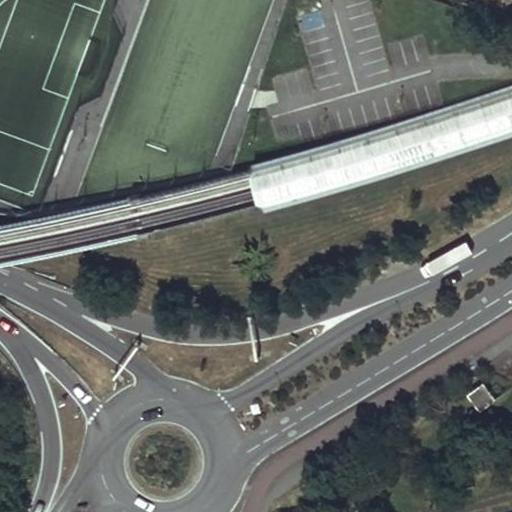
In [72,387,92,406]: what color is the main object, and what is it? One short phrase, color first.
white car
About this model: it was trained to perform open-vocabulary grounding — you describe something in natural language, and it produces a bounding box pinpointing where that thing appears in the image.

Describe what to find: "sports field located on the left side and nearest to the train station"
[74,0,278,211]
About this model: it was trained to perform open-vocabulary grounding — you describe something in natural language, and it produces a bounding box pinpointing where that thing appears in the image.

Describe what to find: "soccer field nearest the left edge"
[0,0,122,213]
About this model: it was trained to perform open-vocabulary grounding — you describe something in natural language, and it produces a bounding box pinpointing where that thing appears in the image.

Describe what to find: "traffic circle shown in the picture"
[126,422,204,501]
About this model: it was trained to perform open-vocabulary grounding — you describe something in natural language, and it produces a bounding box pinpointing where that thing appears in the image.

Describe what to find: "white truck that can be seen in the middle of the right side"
[420,242,472,280]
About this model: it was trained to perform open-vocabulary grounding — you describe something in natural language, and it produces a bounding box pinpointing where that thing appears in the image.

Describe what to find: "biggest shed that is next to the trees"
[466,384,495,412]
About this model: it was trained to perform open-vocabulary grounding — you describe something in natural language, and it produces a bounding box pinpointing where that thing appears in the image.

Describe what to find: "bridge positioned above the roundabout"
[0,96,511,269]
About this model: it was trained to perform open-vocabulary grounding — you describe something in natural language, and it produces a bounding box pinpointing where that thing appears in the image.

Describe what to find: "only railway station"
[250,86,512,210]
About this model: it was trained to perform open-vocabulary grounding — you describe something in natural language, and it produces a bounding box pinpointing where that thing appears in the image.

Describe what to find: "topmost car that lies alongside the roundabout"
[141,408,162,422]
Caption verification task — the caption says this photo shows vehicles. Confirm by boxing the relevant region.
[141,408,162,422]
[72,387,92,406]
[0,318,18,336]
[420,242,472,280]
[34,502,46,512]
[135,498,156,512]
[442,270,462,286]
